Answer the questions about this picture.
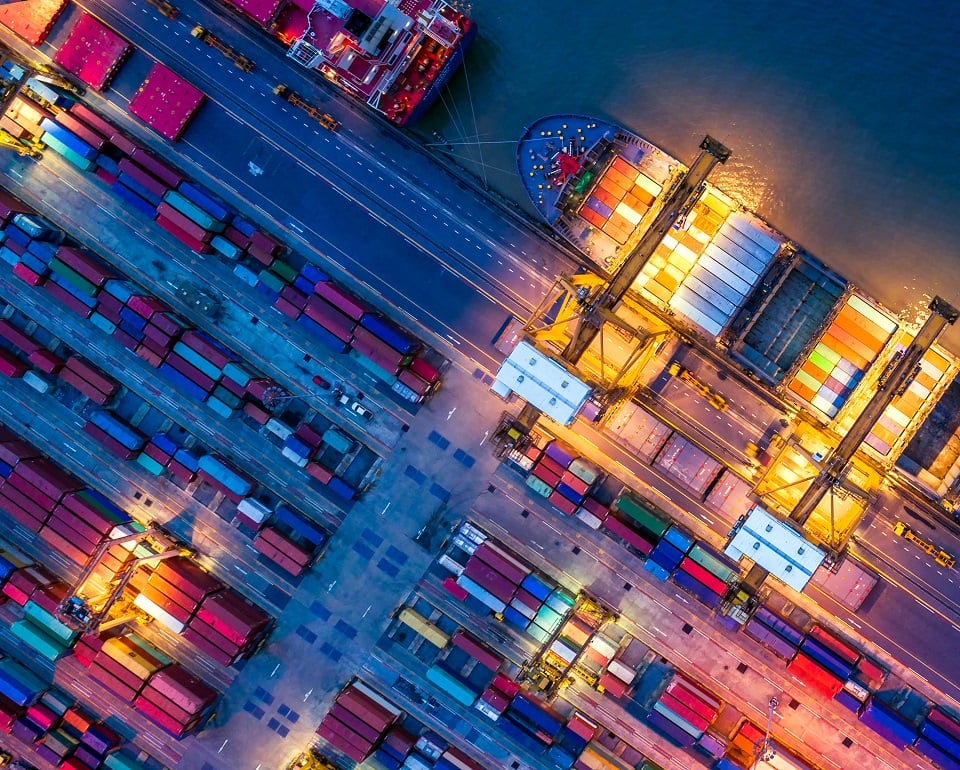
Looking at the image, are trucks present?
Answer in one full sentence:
Yes, I can see a truck in this picture.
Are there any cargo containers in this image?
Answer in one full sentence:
Yes, you can see a cargo container in this photo.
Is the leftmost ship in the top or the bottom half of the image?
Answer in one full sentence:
The leftmost ship is in the top half of the image.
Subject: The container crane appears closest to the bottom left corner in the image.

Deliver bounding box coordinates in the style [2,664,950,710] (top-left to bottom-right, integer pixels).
[59,525,183,633]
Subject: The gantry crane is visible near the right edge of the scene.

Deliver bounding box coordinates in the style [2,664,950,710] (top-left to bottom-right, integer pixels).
[714,292,960,616]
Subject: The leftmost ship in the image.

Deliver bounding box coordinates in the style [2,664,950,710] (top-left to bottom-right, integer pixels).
[225,0,481,125]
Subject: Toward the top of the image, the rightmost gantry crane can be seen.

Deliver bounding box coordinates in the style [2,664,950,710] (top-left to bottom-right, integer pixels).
[486,129,735,457]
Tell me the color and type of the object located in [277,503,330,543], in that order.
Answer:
blue shipping container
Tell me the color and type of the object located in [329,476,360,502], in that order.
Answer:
blue shipping container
